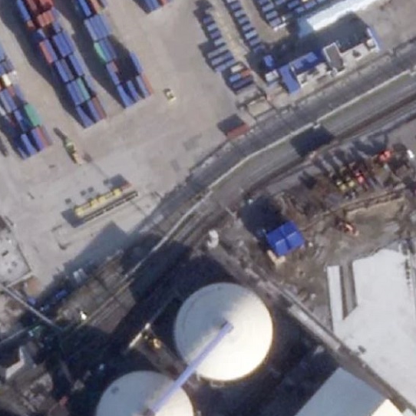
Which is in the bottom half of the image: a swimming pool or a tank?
tank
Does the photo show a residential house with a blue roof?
Yes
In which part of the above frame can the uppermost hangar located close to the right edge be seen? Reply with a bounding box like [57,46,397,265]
[302,0,398,40]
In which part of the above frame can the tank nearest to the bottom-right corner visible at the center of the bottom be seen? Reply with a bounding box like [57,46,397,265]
[173,284,276,387]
